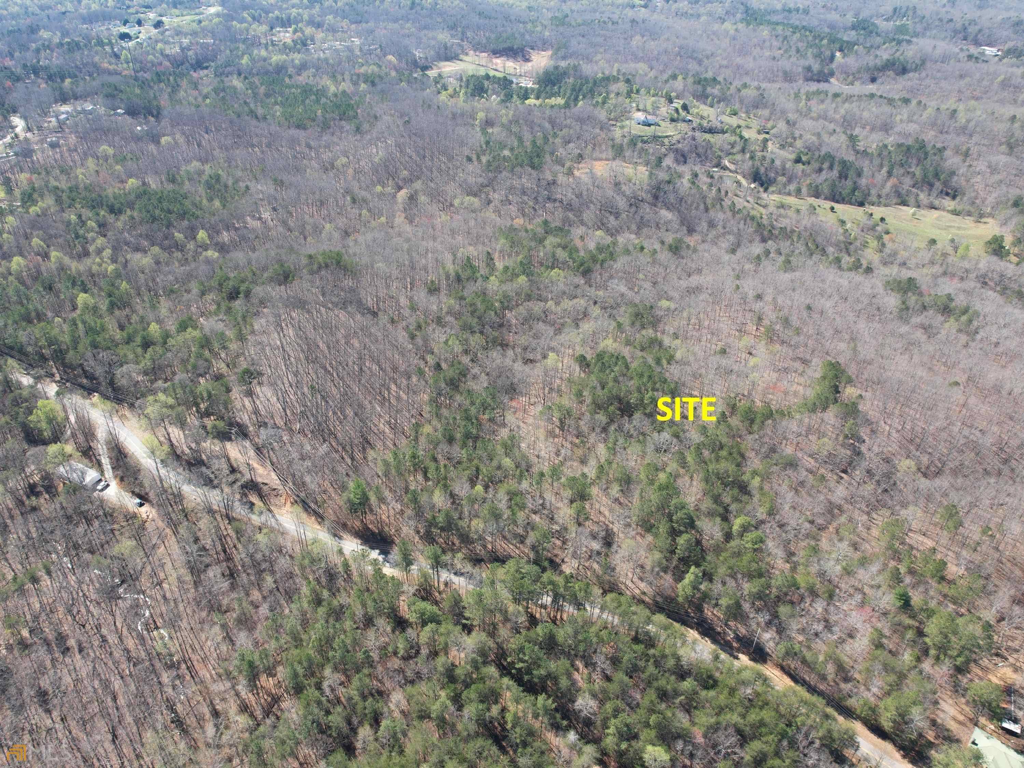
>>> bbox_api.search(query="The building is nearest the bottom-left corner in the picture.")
[55,460,102,490]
